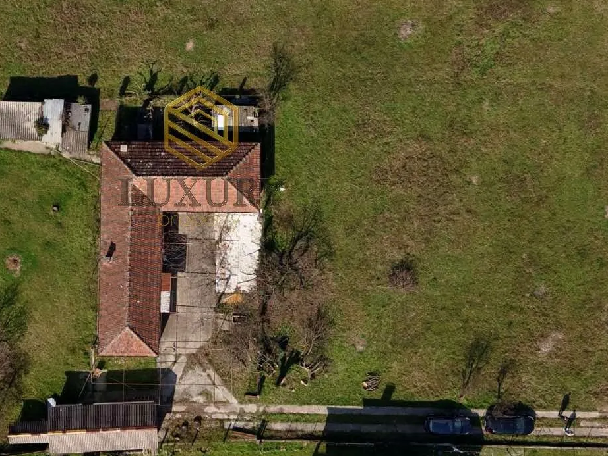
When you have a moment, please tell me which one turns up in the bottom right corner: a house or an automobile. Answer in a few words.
automobile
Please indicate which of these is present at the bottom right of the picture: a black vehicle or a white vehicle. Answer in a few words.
black vehicle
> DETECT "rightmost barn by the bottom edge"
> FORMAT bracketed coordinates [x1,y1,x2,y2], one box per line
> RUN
[48,399,158,455]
